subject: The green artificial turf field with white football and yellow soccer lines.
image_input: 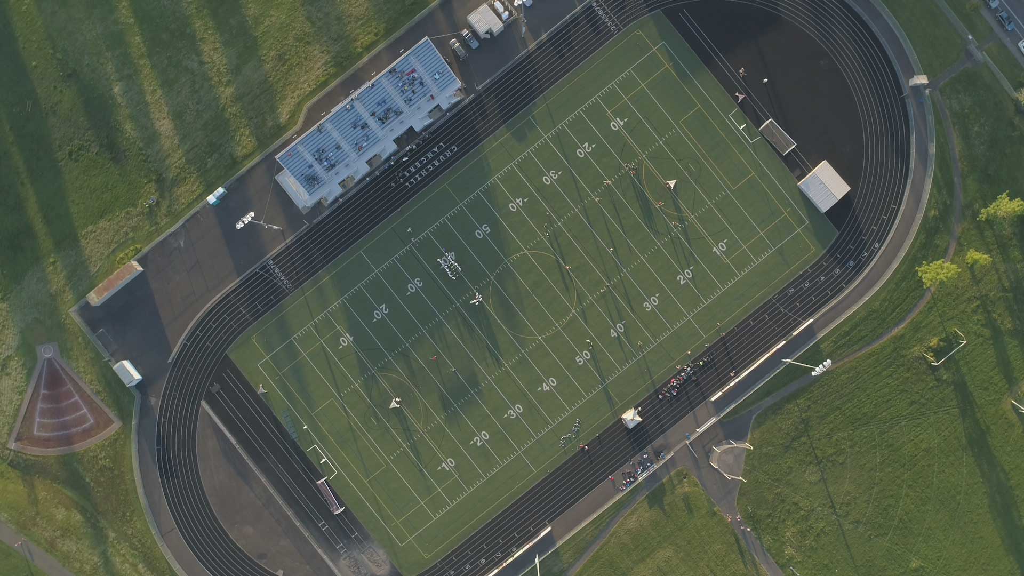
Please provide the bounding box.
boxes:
[227,10,838,576]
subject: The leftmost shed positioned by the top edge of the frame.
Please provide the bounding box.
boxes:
[468,4,505,43]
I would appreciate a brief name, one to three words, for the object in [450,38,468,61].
car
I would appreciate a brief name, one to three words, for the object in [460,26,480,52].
vehicle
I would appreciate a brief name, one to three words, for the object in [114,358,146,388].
shed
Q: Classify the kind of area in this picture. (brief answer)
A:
sports ground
